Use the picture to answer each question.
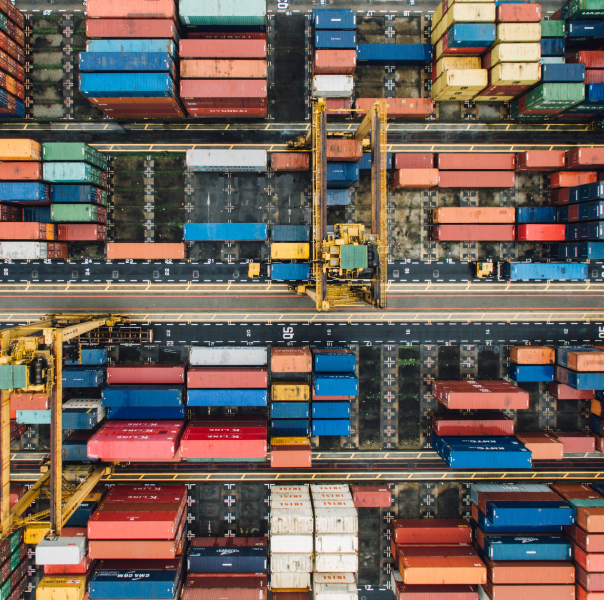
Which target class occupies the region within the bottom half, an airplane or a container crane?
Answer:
container crane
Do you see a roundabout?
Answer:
No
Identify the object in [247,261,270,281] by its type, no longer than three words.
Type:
vehicle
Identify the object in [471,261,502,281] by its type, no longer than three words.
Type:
vehicle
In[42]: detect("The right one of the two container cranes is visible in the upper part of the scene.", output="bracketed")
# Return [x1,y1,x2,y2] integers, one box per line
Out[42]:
[287,94,388,309]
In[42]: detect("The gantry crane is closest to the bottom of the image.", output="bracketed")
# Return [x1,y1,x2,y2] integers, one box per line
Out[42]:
[0,313,124,545]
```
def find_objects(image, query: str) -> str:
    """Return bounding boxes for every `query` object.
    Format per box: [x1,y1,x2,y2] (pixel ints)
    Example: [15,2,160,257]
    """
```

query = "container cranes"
[0,313,124,545]
[287,94,388,309]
